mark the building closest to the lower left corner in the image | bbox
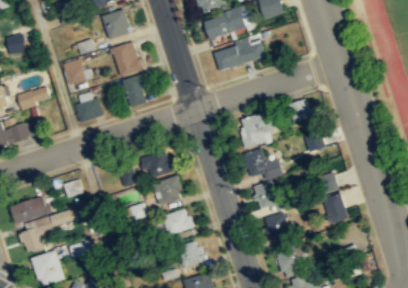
[31,250,67,284]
